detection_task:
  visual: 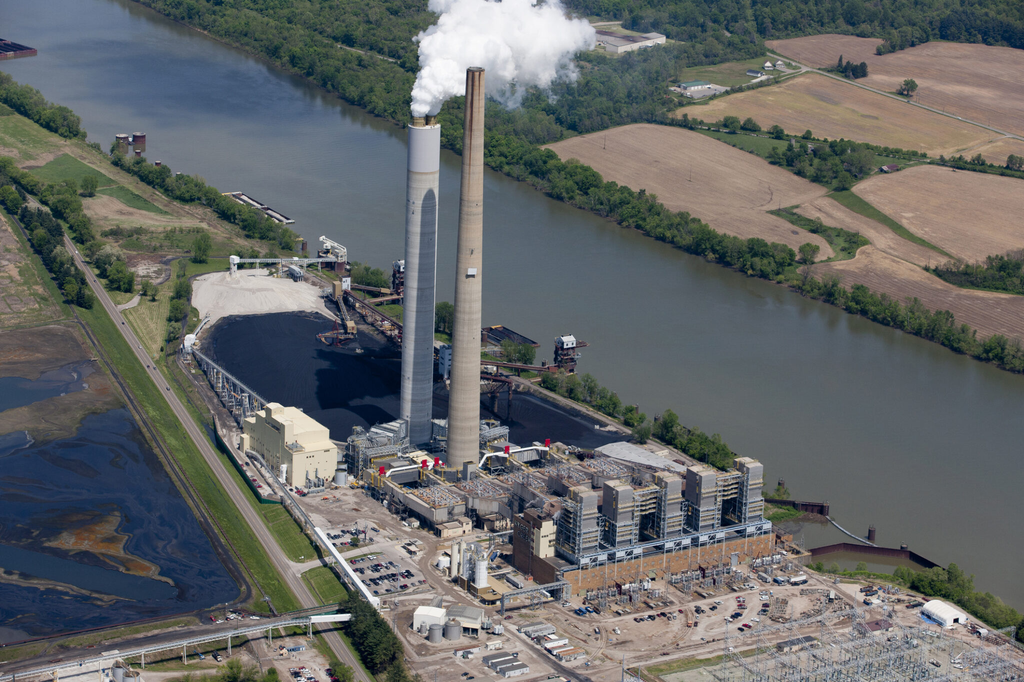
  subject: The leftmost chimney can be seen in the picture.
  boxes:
[399,111,440,439]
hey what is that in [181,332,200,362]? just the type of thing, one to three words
house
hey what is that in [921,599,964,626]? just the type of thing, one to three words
shed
